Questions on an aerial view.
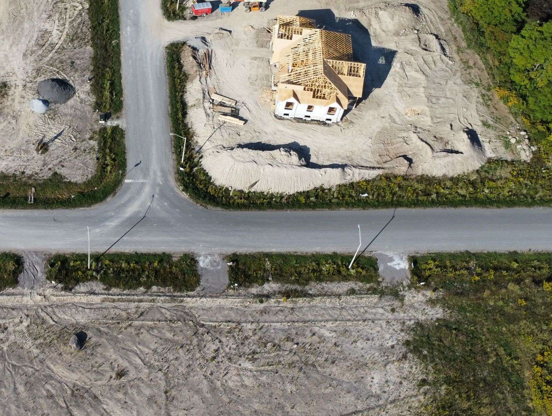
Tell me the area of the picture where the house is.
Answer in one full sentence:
You can find the house in the top area of the picture.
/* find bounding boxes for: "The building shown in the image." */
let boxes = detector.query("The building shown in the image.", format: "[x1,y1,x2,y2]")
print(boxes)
[269,16,368,122]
